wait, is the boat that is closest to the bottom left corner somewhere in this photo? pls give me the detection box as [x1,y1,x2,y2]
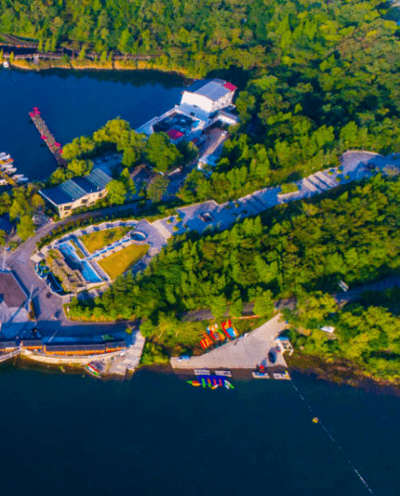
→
[84,366,104,379]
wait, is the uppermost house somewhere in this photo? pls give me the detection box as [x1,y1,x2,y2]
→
[182,79,228,113]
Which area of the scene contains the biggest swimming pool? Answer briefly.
left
